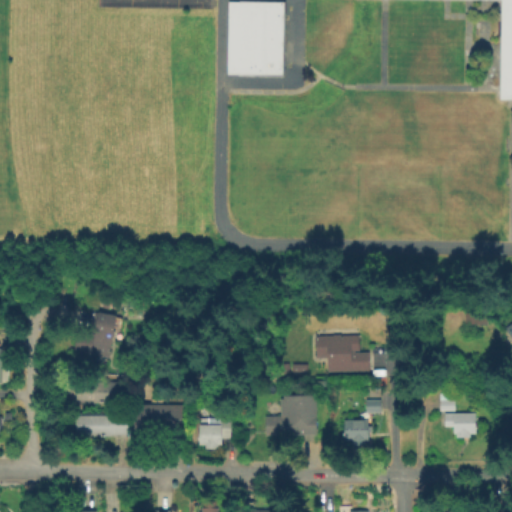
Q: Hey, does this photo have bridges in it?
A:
No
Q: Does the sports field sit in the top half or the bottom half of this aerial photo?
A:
top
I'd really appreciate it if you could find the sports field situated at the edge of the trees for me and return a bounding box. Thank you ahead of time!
[228,91,509,240]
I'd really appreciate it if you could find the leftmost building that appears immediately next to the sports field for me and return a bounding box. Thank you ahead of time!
[228,2,286,76]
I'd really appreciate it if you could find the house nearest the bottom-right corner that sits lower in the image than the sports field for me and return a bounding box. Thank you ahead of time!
[445,413,477,440]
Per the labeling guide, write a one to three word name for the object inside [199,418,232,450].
house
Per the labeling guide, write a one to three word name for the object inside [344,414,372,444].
house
